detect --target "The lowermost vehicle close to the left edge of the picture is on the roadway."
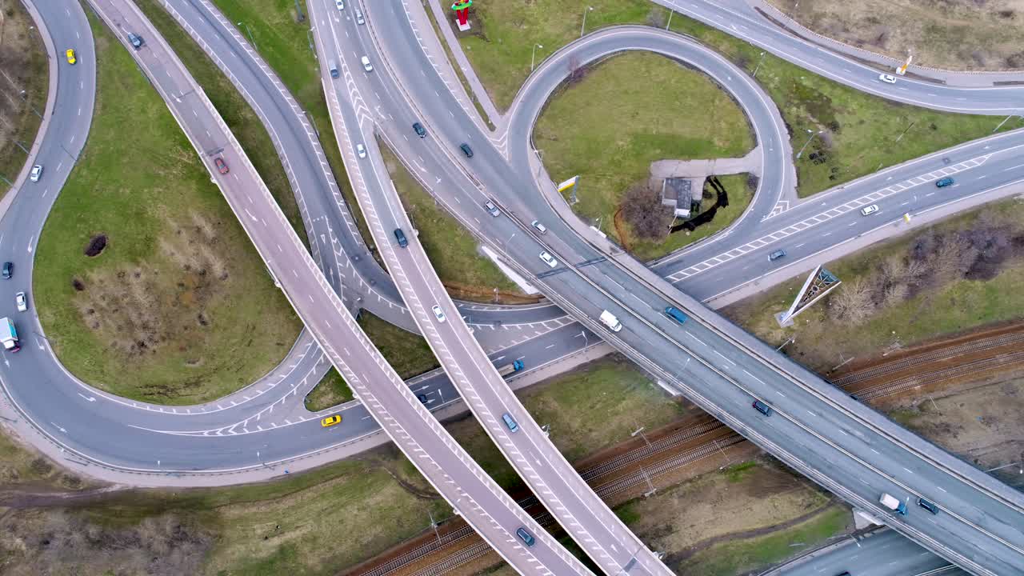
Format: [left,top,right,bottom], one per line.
[0,314,22,351]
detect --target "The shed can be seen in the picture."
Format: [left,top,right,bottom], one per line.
[661,178,691,221]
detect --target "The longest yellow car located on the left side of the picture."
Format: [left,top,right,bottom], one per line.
[320,414,342,427]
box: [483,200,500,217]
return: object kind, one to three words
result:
car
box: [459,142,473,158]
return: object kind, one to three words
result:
car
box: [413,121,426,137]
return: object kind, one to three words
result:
vehicle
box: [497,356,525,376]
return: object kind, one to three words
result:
vehicle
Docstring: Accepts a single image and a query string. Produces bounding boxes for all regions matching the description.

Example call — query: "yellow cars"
[66,49,76,63]
[320,414,342,427]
